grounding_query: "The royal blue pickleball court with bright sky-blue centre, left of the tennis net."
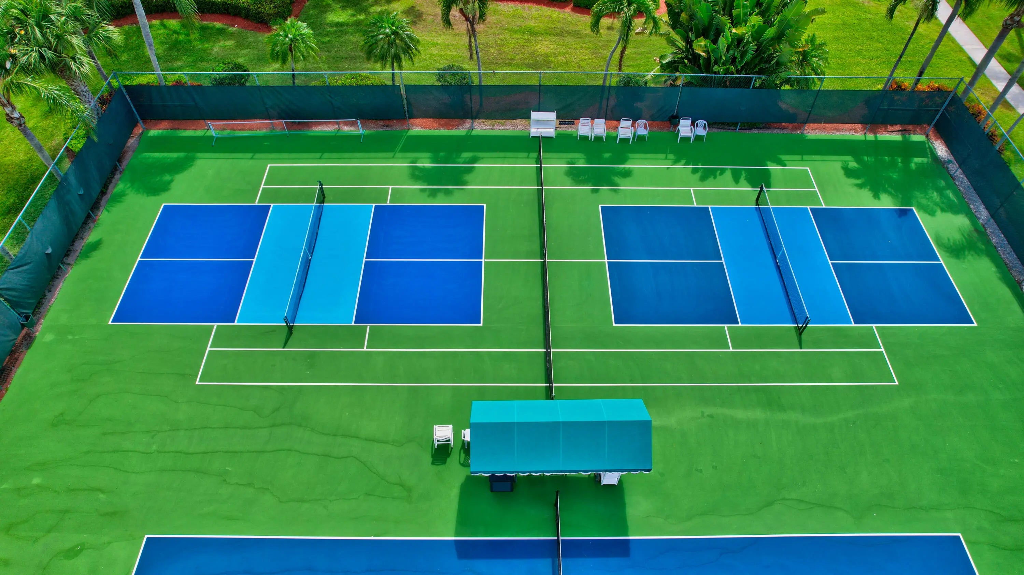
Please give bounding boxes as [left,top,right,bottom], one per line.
[110,203,485,325]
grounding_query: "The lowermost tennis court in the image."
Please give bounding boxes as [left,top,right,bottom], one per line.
[134,535,978,575]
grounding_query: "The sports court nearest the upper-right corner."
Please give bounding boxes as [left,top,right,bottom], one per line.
[598,205,978,327]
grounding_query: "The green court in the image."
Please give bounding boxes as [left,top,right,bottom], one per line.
[197,165,898,385]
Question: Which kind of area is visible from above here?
sports ground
